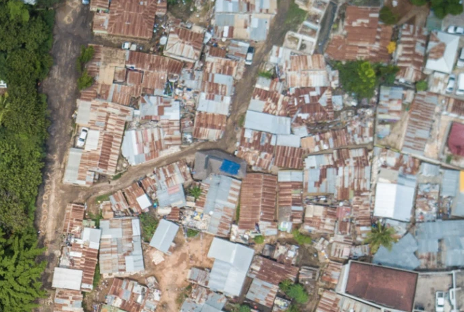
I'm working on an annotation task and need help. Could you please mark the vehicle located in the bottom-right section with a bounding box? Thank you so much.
[434,291,446,312]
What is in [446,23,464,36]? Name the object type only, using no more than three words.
vehicle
